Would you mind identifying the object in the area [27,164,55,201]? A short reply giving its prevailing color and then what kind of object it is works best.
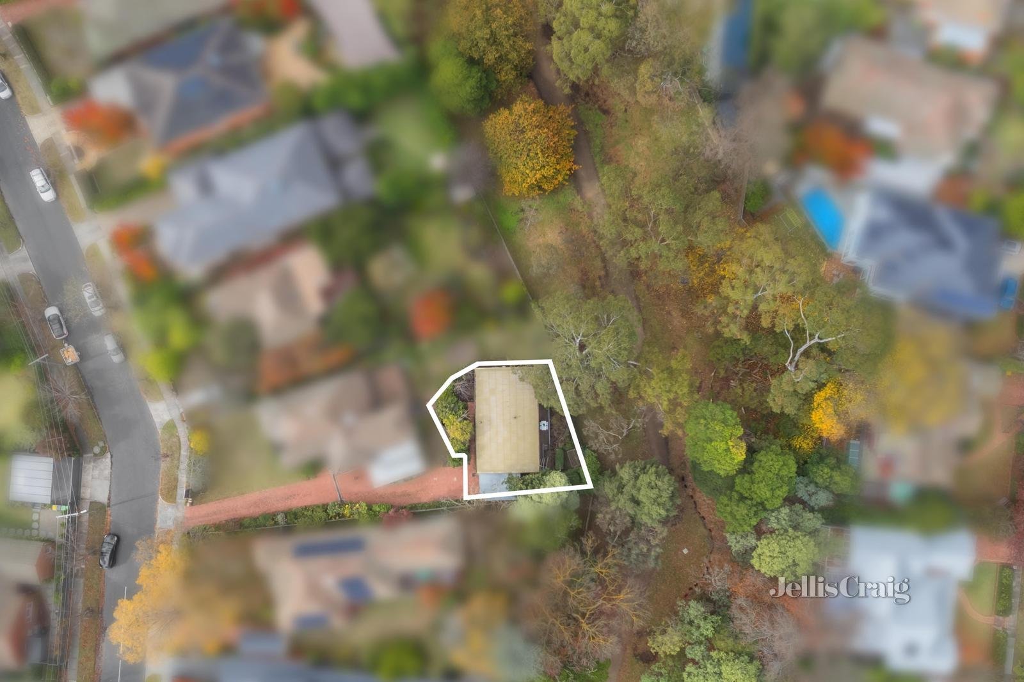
white car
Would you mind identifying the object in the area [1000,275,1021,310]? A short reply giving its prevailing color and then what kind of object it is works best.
blue car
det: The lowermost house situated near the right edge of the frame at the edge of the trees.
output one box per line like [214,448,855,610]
[843,527,976,676]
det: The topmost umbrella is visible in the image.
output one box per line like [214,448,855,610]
[432,152,449,169]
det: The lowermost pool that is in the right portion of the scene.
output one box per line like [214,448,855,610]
[802,186,844,249]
